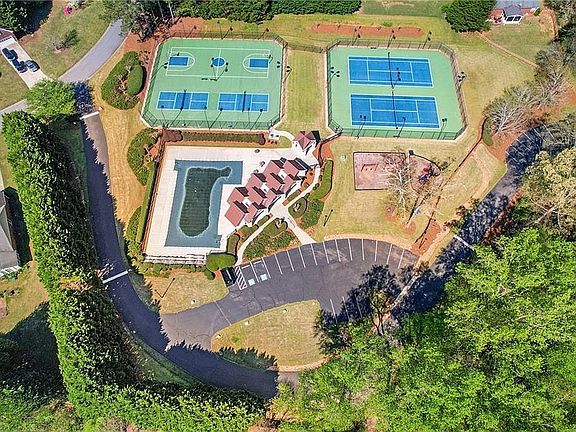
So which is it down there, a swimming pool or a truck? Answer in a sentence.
The one in the frame is a swimming pool.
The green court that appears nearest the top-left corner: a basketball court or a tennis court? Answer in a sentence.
In the photo, the green court that appears nearest the top-left corner shows up as a basketball court.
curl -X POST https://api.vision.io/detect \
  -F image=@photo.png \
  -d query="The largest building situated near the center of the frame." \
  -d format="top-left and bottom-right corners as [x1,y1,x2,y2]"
[225,158,309,229]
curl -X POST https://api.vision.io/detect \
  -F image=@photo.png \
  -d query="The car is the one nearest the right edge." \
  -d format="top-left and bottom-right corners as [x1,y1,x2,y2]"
[220,266,238,287]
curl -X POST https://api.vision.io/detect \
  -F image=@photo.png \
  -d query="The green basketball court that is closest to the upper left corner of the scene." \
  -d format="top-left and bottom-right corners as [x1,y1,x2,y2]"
[138,37,286,132]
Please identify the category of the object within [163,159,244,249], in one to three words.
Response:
swimming pool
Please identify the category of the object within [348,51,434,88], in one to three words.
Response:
tennis court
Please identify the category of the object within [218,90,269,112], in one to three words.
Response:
sports court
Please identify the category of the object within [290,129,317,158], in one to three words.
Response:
building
